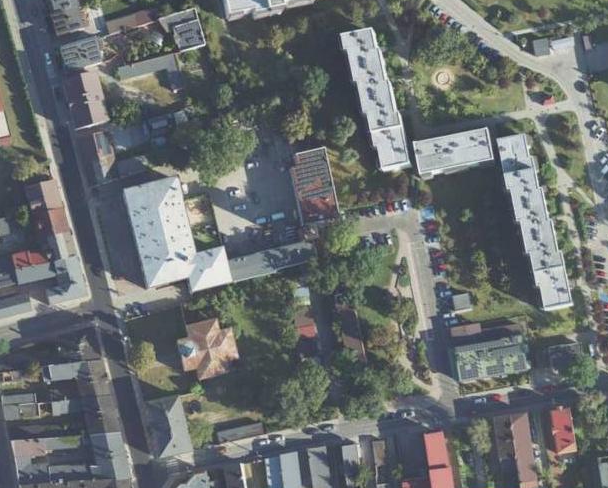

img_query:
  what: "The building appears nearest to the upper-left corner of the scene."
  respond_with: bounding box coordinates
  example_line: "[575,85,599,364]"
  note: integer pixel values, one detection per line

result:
[51,0,89,40]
